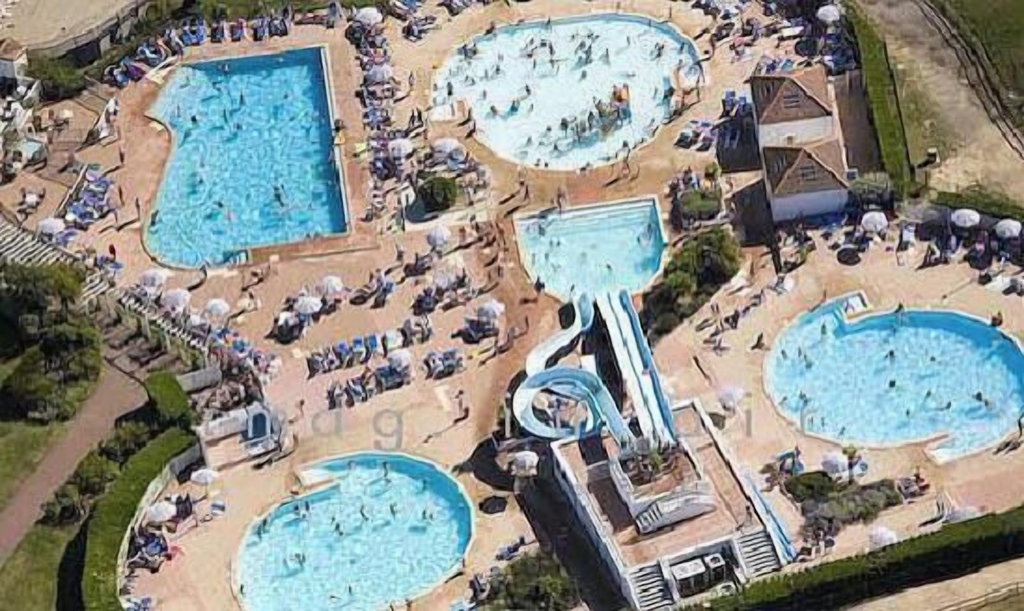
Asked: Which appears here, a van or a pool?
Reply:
pool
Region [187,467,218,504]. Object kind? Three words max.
umbrella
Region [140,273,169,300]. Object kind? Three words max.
umbrella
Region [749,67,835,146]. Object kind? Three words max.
house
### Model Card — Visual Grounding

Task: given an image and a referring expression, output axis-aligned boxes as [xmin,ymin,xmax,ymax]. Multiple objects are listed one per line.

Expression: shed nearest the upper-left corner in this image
[0,37,31,92]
